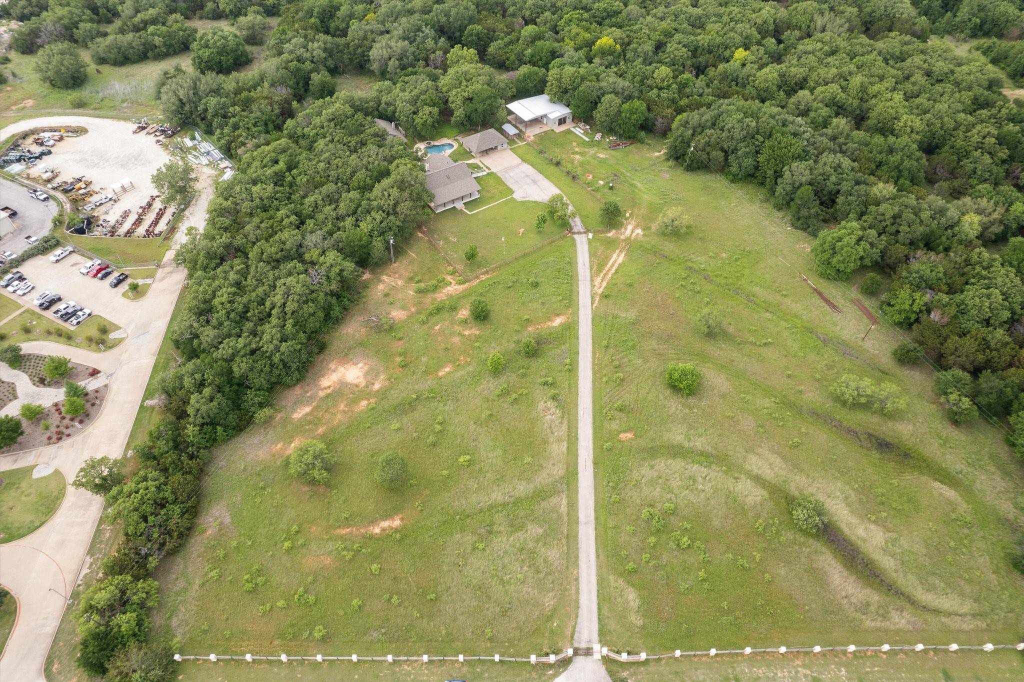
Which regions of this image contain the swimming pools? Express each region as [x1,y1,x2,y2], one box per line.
[418,137,458,156]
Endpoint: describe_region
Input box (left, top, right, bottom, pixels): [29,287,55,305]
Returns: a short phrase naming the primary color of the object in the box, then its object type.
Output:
white car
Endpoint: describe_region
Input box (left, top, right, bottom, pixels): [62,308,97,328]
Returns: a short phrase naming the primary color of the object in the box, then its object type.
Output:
white vehicle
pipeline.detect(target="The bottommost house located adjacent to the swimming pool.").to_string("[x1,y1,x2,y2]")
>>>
[413,150,481,212]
